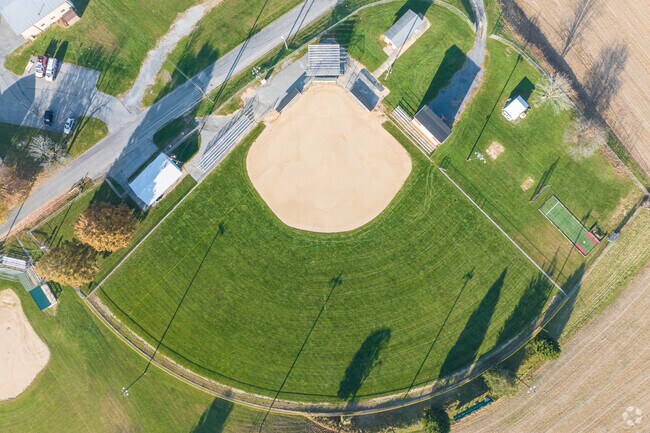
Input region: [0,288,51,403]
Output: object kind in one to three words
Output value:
baseball field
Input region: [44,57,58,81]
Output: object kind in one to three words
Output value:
vehicle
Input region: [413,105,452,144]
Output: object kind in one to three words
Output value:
building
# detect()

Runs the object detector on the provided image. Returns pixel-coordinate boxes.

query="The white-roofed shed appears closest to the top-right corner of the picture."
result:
[501,95,529,121]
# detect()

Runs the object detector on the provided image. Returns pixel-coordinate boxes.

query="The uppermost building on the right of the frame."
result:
[385,8,423,49]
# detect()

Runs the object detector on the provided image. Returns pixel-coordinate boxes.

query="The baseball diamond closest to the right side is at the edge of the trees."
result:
[91,80,566,416]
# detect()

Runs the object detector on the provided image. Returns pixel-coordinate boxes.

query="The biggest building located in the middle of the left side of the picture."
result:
[129,152,184,205]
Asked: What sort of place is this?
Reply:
sports ground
